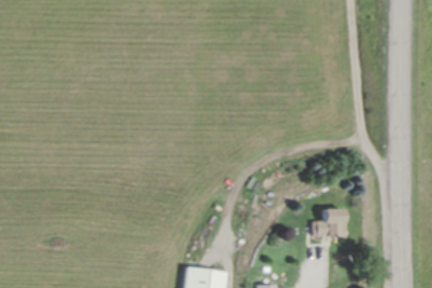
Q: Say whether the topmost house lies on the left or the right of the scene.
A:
right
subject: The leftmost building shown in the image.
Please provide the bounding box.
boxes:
[185,268,230,288]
